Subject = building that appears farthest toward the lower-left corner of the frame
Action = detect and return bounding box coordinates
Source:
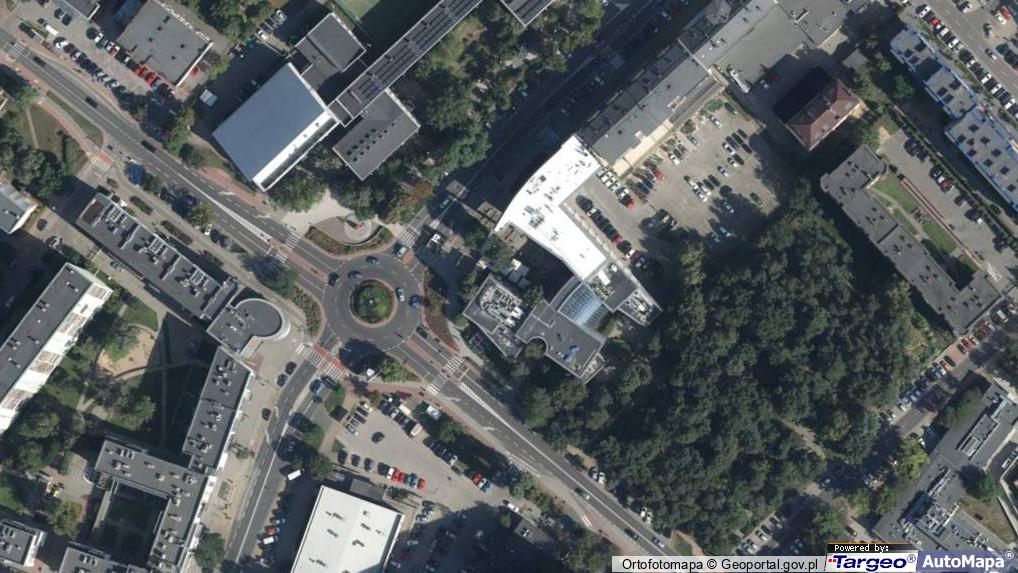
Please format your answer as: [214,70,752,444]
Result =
[0,518,43,564]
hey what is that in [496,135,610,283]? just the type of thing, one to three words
building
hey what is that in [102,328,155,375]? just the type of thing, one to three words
playground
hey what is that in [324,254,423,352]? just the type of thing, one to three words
roundabout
